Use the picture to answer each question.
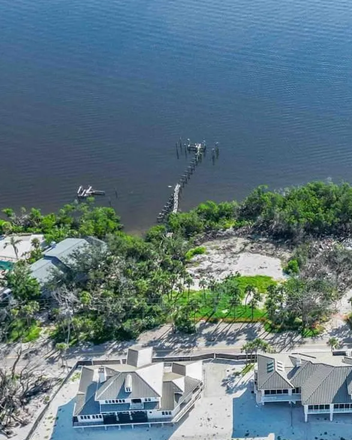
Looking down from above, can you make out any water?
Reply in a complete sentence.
Yes, some water is visible.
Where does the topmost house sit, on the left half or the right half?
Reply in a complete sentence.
The topmost house appears in the left half of the scene.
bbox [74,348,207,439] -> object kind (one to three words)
house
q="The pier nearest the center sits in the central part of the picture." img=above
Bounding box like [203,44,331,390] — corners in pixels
[155,137,217,218]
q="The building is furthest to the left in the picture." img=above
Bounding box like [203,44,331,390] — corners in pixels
[30,236,105,296]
